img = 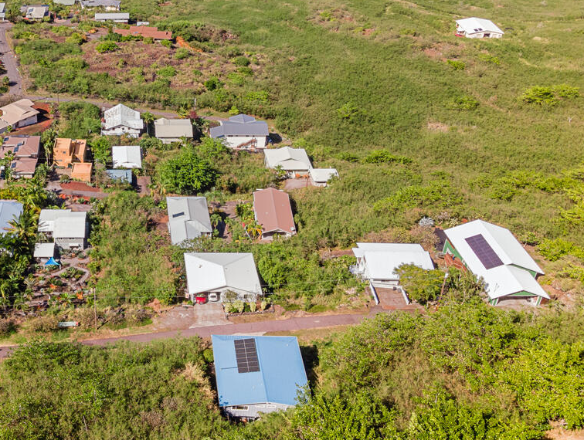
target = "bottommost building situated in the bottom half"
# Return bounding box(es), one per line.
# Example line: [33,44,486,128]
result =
[210,331,314,415]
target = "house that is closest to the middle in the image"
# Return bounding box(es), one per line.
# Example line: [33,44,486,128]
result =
[253,187,298,241]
